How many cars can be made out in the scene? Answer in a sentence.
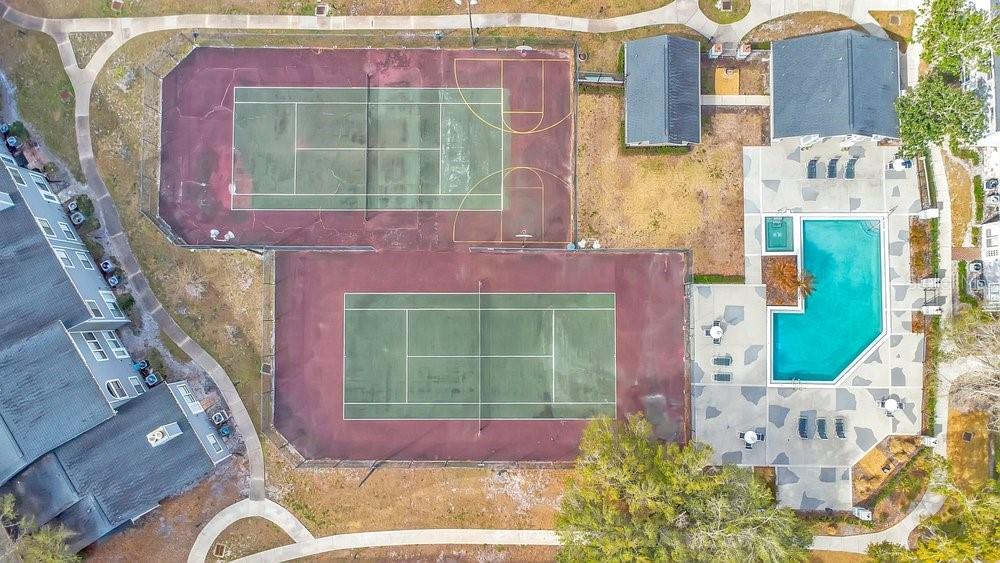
The photo contains no cars.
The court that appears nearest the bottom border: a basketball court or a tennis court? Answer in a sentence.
In the photo, the court that appears nearest the bottom border shows up as a tennis court.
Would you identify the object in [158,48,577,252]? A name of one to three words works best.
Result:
tennis court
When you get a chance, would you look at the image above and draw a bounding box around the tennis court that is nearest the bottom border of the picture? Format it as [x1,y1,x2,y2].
[272,250,690,462]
